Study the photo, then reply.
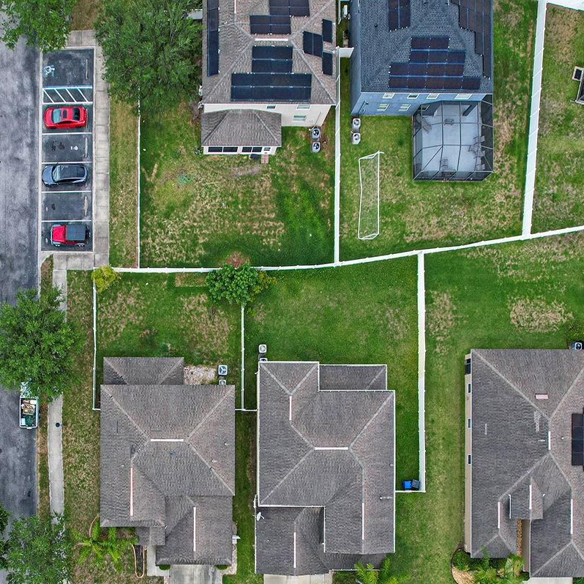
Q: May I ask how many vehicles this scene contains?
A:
4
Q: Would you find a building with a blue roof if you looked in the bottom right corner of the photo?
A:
No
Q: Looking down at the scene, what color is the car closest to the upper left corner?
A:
red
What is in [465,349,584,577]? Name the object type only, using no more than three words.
house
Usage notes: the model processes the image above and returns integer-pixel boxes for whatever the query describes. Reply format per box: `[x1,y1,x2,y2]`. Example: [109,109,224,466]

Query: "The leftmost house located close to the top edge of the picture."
[201,0,336,163]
